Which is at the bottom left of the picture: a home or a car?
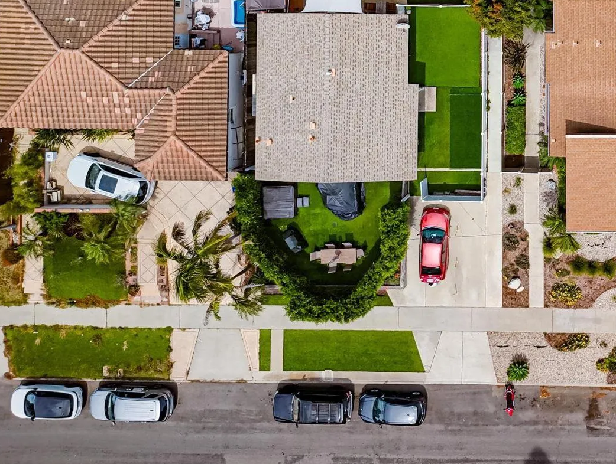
car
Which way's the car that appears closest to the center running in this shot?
from top to bottom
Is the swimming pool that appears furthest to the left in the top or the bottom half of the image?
top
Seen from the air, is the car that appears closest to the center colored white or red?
red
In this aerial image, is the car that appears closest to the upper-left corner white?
Yes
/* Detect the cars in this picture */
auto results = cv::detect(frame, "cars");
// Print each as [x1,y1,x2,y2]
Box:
[274,388,355,427]
[359,391,428,430]
[13,384,87,421]
[416,205,452,285]
[93,385,176,425]
[70,153,162,204]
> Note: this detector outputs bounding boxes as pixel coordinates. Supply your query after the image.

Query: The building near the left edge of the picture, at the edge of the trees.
[0,0,242,181]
